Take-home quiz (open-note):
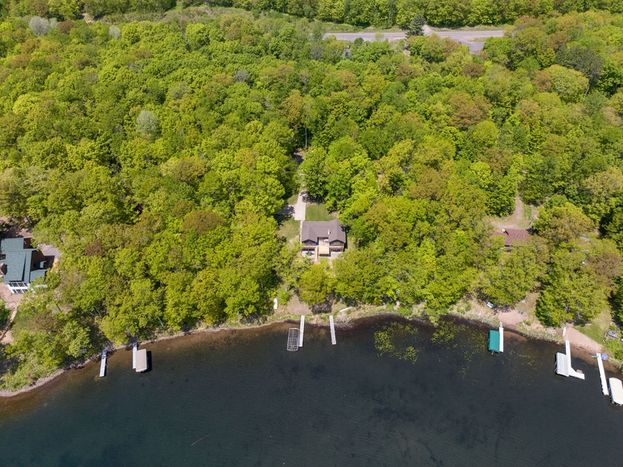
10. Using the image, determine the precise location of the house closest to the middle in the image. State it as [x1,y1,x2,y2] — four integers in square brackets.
[301,218,346,266]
